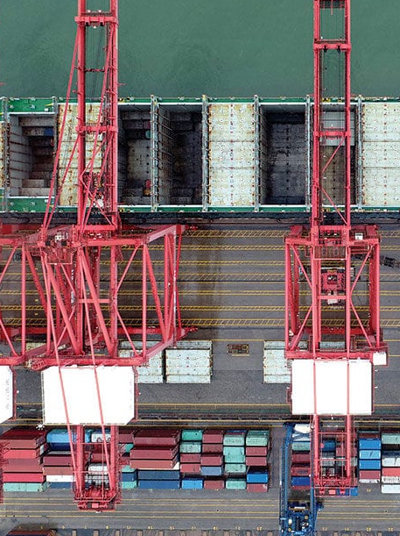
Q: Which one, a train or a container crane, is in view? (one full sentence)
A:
Of the two, only a container crane appears.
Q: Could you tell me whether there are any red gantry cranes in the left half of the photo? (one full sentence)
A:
Yes, a red gantry crane is visible in the left half of the photo.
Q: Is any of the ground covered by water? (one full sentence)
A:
Yes, some water is visible.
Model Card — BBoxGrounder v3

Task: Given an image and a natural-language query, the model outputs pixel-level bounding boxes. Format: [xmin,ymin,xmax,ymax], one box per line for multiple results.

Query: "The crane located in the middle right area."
[270,0,393,495]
